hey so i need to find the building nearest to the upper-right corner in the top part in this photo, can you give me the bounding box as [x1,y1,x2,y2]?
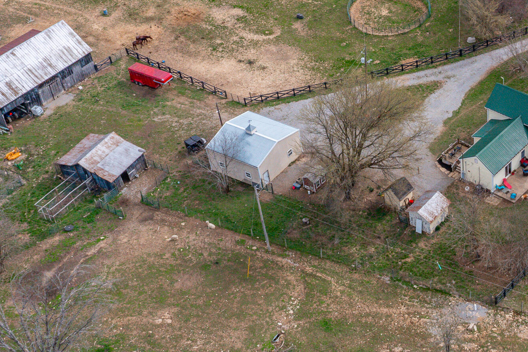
[457,77,528,192]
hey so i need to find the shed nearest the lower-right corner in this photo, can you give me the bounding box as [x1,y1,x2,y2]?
[404,191,450,234]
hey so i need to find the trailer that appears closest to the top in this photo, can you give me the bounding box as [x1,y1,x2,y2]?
[126,62,171,89]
